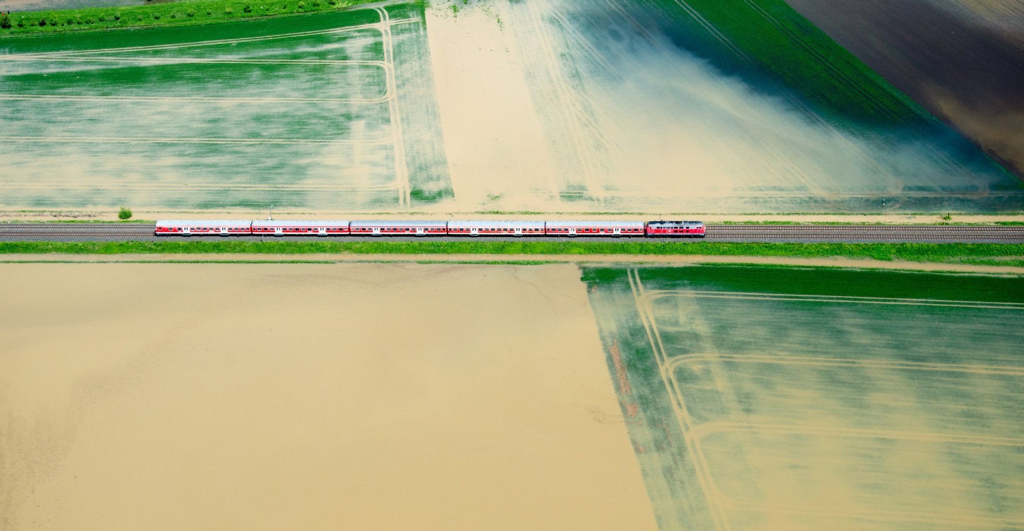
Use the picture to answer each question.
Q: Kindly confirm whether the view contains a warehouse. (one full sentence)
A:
No, I can see no warehouse in this picture.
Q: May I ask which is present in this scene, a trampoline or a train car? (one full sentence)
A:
It is a train car that can be seen here.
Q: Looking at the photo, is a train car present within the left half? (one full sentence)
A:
Yes, a train car shows up within the left half.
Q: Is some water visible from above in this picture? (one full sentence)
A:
Yes, the picture does contain water.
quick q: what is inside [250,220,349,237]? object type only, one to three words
rail car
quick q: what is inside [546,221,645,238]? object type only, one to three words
rail car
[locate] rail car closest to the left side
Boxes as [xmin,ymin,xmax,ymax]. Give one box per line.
[153,220,251,236]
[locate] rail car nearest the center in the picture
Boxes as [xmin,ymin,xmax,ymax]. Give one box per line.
[447,221,546,237]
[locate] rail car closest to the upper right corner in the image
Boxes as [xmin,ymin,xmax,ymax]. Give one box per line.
[645,220,706,238]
